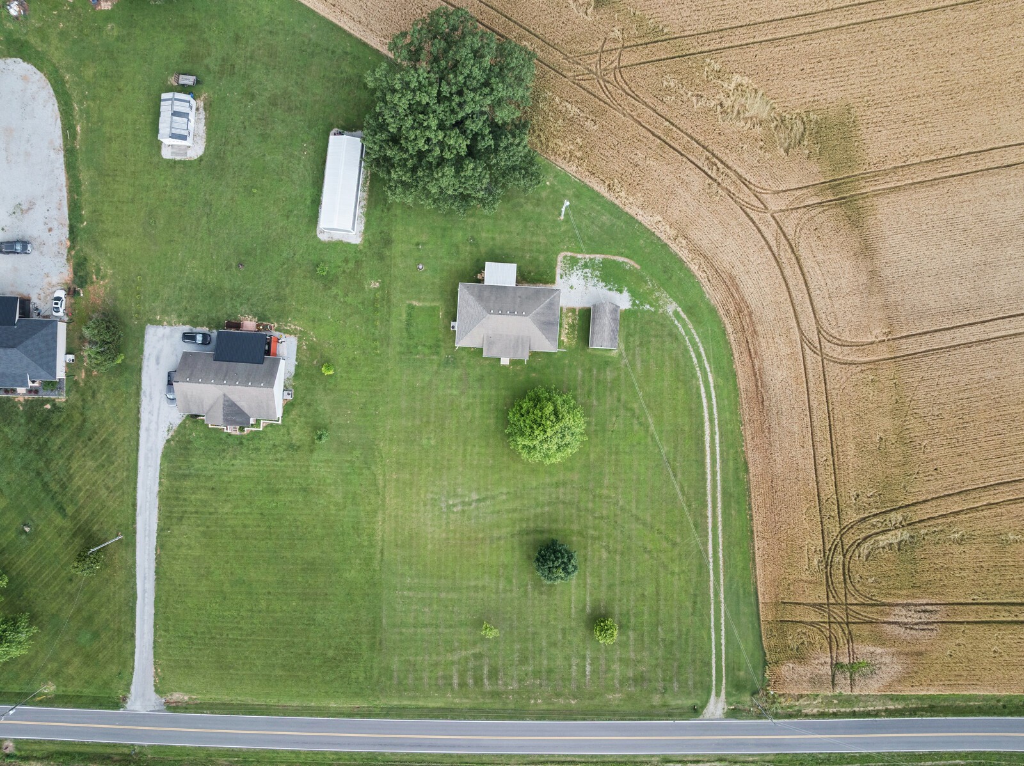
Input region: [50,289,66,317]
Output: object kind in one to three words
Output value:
car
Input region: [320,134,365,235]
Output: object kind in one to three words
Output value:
barn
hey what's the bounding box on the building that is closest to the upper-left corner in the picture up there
[158,92,196,146]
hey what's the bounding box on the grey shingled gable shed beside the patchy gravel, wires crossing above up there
[589,301,620,349]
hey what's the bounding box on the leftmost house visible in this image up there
[0,295,75,394]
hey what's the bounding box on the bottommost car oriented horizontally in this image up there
[180,331,210,345]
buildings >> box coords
[158,92,196,146]
[173,330,285,433]
[455,262,566,364]
[0,295,75,394]
[320,134,365,235]
[589,301,620,349]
